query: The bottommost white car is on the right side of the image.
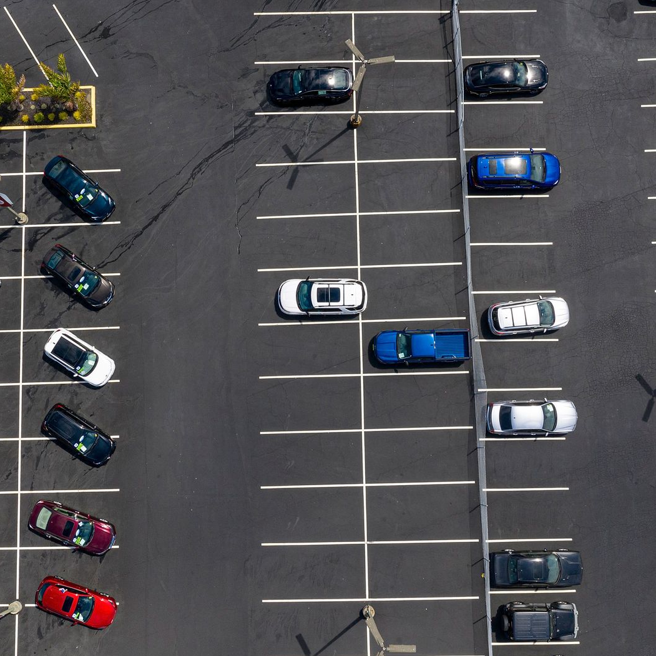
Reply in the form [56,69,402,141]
[485,396,576,439]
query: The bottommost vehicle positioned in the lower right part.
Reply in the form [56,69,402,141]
[499,600,580,644]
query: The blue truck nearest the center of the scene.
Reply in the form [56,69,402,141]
[373,326,472,370]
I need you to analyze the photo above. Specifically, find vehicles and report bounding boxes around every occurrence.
[41,243,113,309]
[491,548,582,591]
[499,600,580,644]
[268,64,353,105]
[28,500,116,555]
[40,403,115,467]
[35,574,117,630]
[43,154,115,222]
[278,276,367,318]
[486,294,569,336]
[467,149,560,191]
[44,327,113,386]
[485,396,576,439]
[373,326,472,370]
[464,55,547,99]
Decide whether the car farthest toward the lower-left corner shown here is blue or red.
red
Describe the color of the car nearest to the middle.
white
